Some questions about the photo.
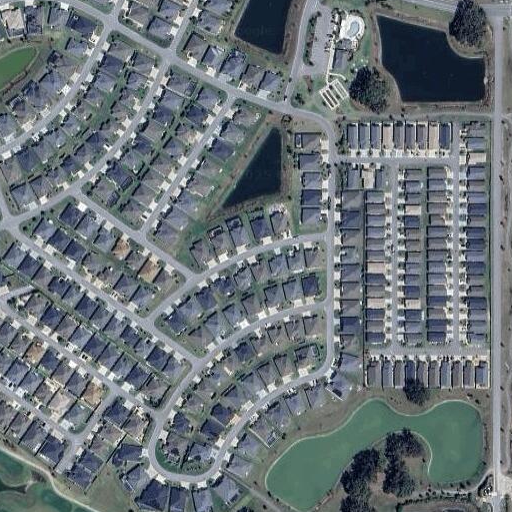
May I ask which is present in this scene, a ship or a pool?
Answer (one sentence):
Visible in the photo is a pool.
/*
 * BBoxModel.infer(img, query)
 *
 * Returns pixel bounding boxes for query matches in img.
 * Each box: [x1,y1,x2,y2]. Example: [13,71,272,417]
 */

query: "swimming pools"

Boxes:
[338,15,364,41]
